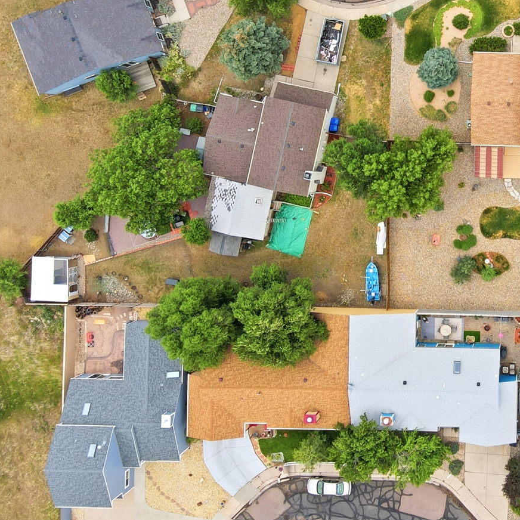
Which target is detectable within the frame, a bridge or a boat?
boat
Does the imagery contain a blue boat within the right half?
Yes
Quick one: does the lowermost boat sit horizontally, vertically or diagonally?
vertically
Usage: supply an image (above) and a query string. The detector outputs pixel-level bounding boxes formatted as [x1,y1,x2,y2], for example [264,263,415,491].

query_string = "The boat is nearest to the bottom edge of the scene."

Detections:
[357,255,382,307]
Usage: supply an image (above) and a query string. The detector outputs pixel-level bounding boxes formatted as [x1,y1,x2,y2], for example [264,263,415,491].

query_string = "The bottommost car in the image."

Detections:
[308,476,353,499]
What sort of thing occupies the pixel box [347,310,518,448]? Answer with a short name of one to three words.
house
